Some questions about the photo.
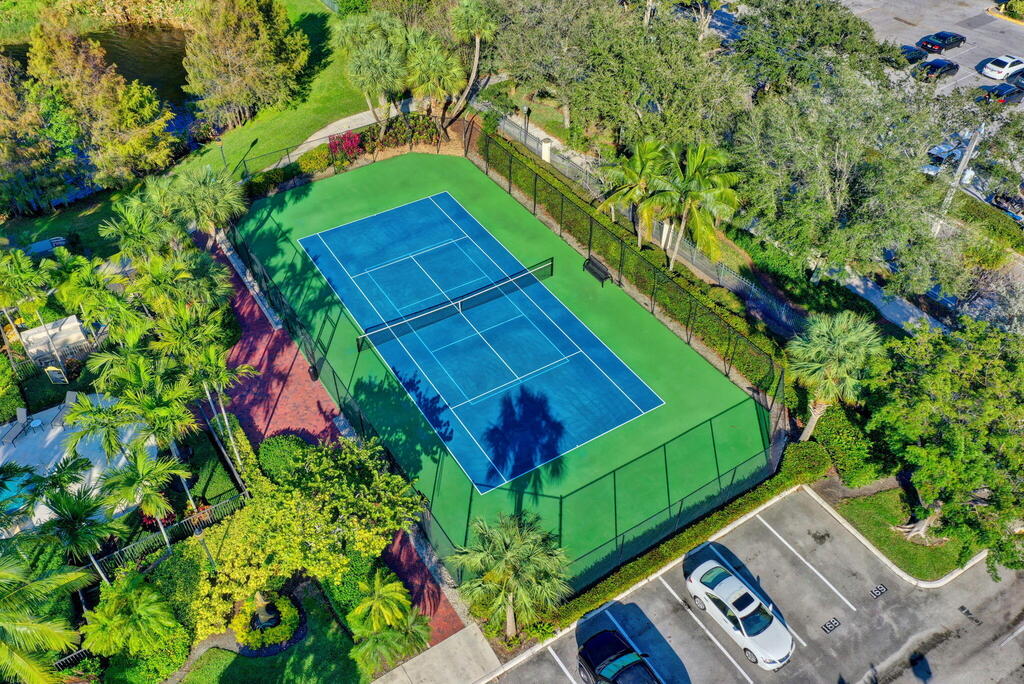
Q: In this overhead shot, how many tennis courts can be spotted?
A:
1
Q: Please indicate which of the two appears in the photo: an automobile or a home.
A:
automobile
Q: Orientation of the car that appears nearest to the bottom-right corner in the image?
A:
diagonally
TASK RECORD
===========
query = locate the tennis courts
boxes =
[227,152,779,593]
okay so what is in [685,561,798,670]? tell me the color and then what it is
white car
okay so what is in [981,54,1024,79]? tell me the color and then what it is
white car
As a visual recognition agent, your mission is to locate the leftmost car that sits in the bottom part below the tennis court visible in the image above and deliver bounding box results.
[575,633,655,684]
